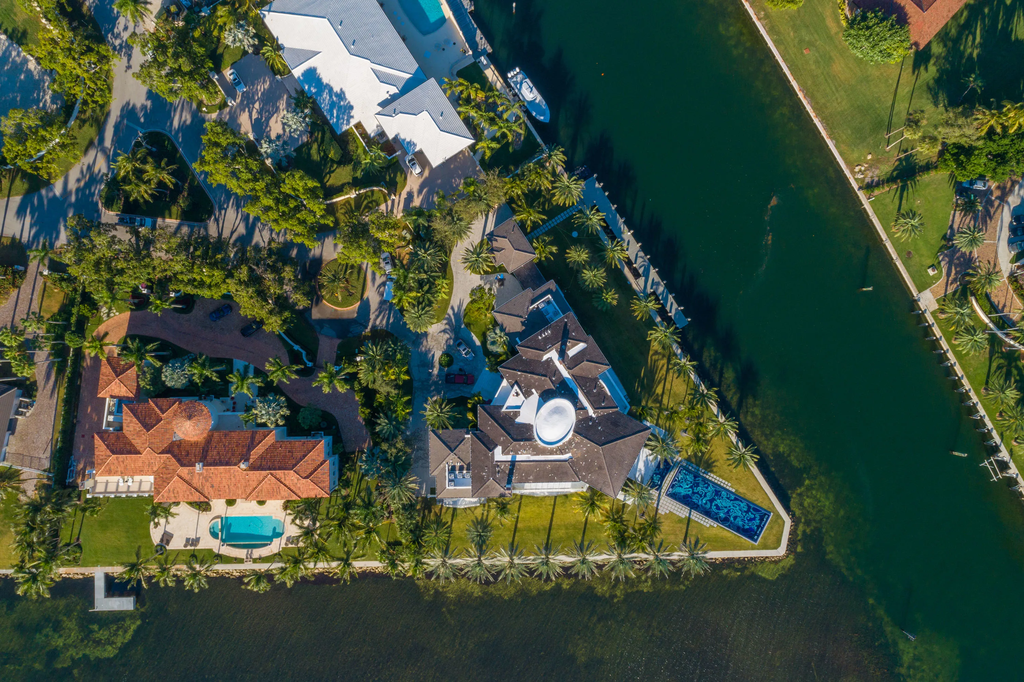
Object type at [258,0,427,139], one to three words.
house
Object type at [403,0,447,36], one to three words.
swimming pool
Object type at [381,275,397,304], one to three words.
vehicle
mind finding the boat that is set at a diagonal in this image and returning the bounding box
[504,63,550,125]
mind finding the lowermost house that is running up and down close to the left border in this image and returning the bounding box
[0,387,37,465]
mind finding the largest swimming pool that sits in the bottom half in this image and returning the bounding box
[662,463,775,546]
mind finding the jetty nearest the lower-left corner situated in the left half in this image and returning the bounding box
[90,572,136,611]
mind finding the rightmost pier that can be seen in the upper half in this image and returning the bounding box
[577,174,690,328]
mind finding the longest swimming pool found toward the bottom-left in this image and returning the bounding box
[221,514,286,544]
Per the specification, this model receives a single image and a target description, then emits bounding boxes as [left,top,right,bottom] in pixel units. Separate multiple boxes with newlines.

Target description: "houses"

[0,387,37,465]
[893,0,968,54]
[429,279,679,508]
[258,0,427,139]
[94,359,341,504]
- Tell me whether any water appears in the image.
Yes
